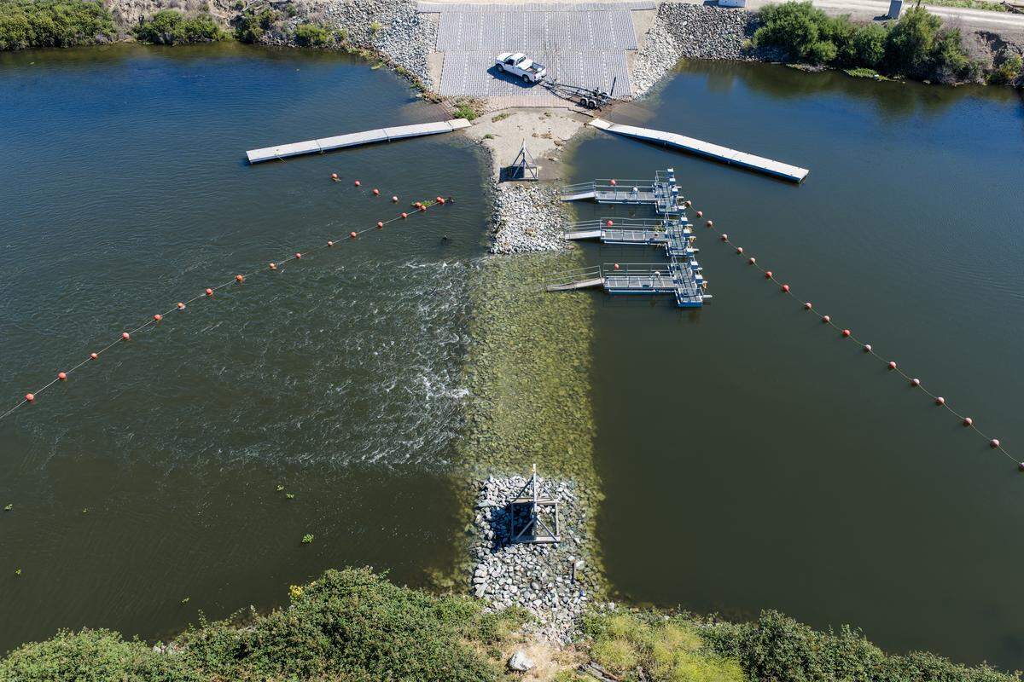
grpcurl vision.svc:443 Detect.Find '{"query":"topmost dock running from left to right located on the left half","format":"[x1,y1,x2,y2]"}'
[248,119,472,165]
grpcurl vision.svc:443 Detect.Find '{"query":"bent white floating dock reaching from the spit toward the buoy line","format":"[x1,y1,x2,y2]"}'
[585,118,807,183]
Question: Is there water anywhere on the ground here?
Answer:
Yes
